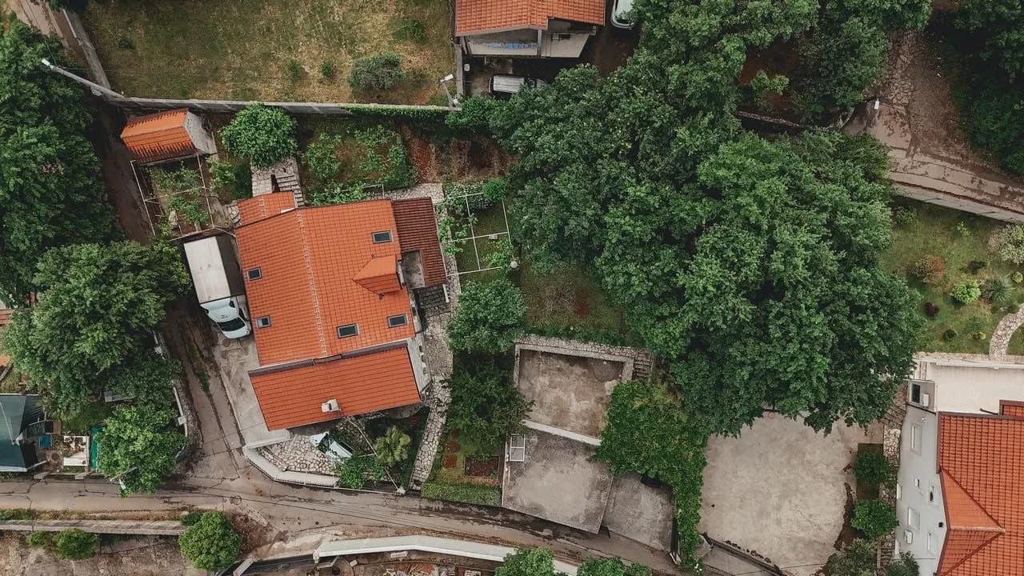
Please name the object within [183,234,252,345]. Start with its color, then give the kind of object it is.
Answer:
white truck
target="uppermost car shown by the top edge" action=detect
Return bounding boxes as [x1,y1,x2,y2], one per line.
[608,0,641,35]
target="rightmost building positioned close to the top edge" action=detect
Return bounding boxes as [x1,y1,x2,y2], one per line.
[455,0,605,67]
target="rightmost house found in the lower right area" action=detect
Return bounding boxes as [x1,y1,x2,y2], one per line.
[894,361,1024,576]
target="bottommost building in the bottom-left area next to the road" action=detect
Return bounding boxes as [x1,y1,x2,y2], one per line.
[0,392,55,473]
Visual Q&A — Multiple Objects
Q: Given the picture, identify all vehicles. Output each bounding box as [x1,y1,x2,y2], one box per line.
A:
[183,234,252,345]
[487,66,551,98]
[608,0,641,35]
